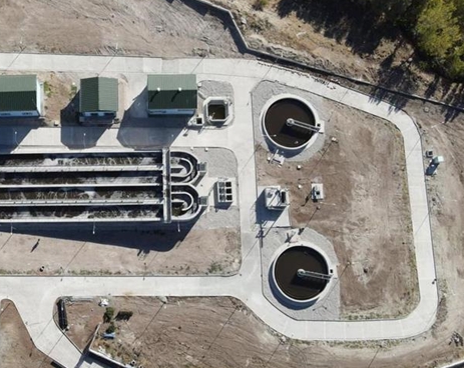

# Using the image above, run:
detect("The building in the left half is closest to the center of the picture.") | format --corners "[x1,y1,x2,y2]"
[148,74,198,114]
